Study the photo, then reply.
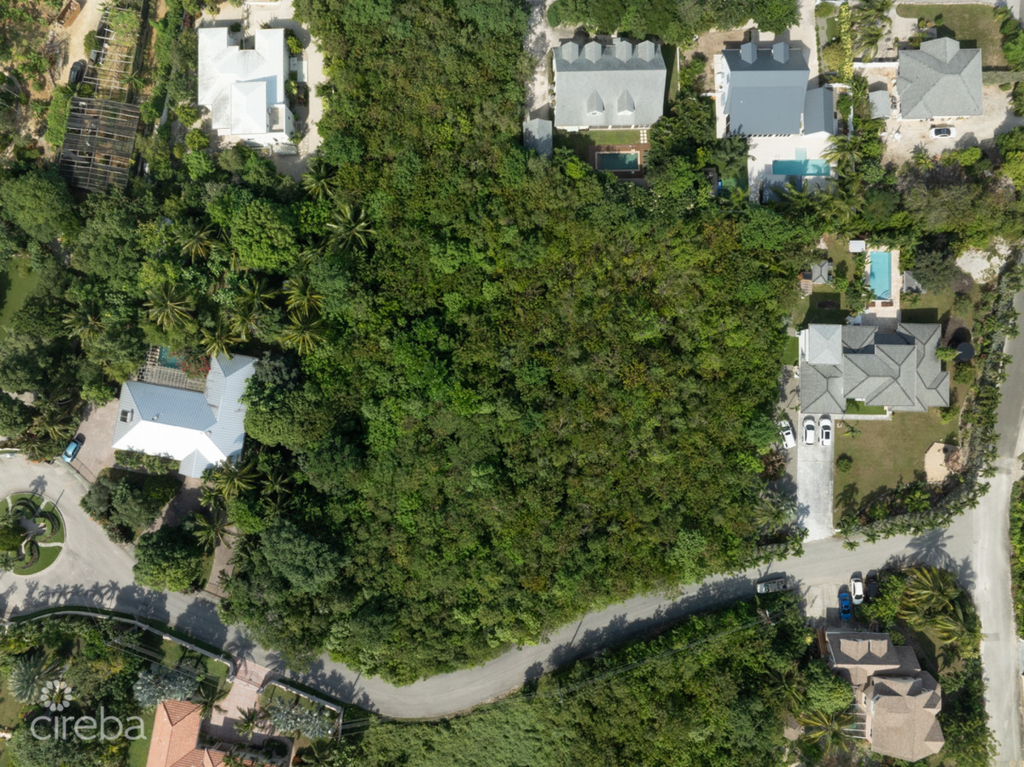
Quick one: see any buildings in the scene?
Yes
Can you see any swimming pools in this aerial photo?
Yes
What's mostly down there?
trees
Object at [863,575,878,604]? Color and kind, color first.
black vehicle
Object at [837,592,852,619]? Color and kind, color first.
blue car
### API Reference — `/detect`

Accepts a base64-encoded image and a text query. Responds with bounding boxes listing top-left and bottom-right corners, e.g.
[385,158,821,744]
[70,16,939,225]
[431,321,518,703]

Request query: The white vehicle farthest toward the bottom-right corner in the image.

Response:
[849,577,864,605]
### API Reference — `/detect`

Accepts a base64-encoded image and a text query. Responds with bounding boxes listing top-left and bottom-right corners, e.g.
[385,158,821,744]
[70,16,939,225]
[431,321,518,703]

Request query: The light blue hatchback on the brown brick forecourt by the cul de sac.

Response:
[62,436,83,463]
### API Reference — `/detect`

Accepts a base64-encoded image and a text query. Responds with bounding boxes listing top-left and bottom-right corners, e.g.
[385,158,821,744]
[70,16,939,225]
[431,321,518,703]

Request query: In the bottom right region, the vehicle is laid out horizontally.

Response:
[755,577,788,595]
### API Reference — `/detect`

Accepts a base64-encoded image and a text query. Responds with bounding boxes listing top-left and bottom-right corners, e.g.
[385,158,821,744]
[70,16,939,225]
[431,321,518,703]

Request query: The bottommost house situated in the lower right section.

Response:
[816,626,944,762]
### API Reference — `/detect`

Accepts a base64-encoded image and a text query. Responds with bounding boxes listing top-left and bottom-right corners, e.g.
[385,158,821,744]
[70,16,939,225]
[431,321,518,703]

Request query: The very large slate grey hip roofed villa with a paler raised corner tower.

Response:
[793,324,950,413]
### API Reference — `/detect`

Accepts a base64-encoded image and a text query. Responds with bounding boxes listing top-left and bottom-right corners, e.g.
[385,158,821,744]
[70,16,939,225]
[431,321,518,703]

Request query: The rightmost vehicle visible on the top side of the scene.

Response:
[928,126,957,140]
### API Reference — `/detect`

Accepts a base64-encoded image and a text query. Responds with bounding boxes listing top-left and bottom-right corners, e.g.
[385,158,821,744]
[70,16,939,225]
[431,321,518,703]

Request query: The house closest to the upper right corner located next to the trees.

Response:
[889,36,982,123]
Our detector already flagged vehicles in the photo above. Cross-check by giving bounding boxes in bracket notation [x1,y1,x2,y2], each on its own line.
[837,592,852,619]
[69,59,88,89]
[778,420,797,448]
[863,575,878,604]
[62,436,83,463]
[755,577,788,595]
[849,577,864,605]
[801,418,816,444]
[817,418,833,445]
[928,126,957,140]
